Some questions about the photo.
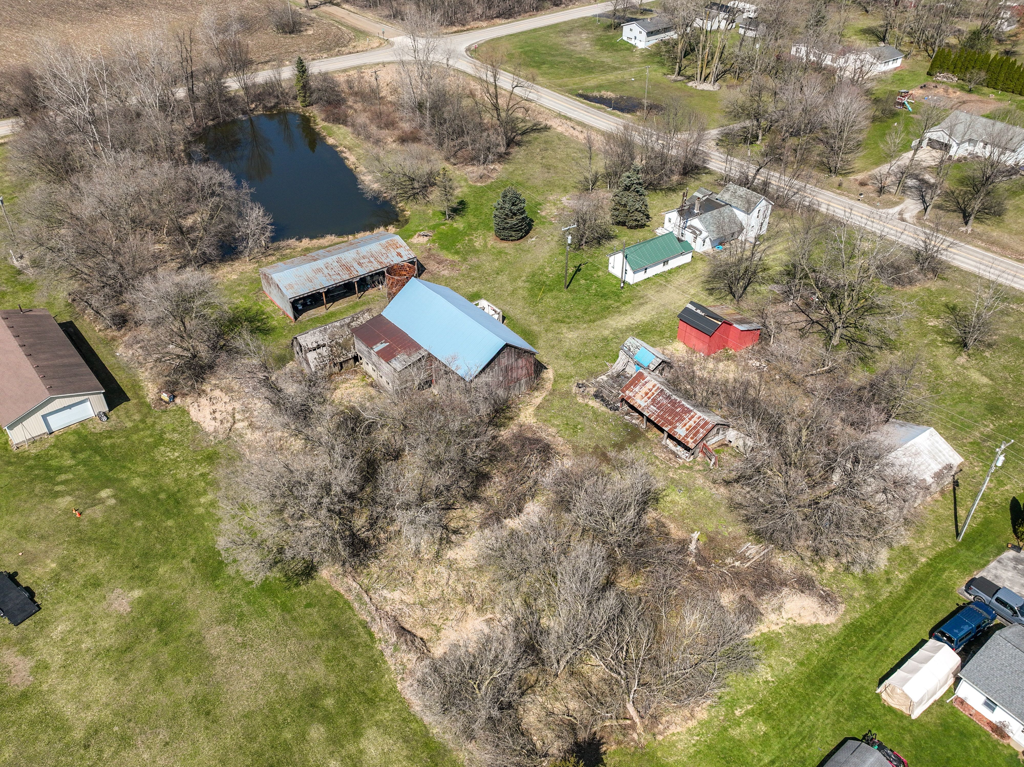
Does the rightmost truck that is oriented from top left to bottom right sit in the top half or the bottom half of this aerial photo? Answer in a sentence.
The bottom half of the photo is where the rightmost truck that is oriented from top left to bottom right is.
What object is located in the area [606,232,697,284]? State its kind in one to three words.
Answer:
building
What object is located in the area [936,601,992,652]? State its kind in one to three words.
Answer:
truck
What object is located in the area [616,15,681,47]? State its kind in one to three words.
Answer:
house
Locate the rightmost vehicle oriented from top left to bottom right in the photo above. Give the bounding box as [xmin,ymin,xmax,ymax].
[966,579,1024,626]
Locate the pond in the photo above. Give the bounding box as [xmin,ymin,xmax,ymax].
[192,113,402,258]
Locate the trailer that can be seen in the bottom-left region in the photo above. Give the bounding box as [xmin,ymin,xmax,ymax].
[0,586,40,627]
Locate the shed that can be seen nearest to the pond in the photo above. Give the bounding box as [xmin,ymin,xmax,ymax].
[258,232,419,320]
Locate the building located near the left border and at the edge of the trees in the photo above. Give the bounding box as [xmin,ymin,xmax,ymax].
[0,308,108,445]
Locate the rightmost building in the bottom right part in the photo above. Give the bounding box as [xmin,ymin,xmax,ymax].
[945,621,1024,747]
